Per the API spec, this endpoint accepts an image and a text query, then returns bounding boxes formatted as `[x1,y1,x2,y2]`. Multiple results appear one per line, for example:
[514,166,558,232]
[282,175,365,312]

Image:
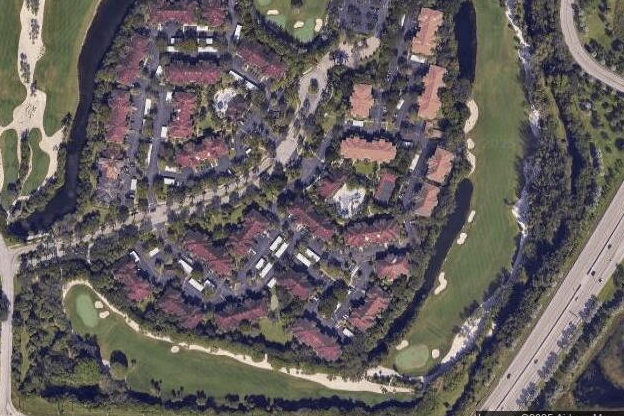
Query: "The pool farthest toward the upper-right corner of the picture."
[333,184,366,219]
